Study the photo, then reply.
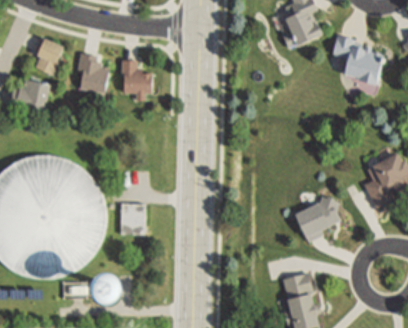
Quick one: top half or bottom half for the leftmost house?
top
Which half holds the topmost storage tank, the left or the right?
left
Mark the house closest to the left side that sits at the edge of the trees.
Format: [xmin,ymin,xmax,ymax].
[20,77,50,108]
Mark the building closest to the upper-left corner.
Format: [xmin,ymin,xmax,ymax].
[38,38,68,75]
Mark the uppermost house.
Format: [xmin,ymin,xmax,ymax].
[286,0,325,46]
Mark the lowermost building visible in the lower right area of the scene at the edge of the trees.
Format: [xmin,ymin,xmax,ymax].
[283,274,320,328]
